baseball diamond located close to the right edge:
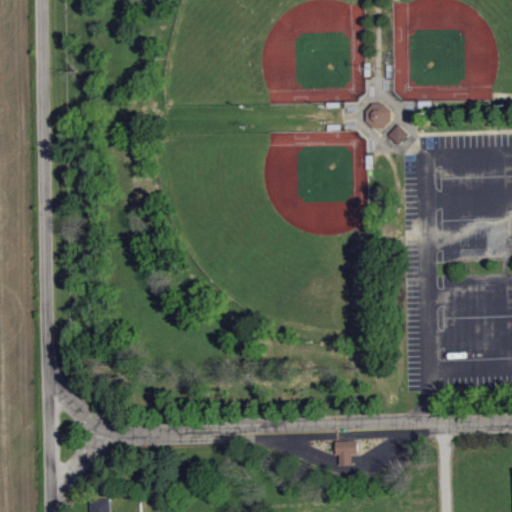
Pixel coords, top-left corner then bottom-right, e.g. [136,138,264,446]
[394,0,512,101]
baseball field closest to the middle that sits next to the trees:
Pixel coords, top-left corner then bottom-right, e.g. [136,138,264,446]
[164,132,368,333]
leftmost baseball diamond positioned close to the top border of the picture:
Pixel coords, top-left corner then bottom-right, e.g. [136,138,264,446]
[166,0,366,105]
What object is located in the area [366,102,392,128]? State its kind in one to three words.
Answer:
building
